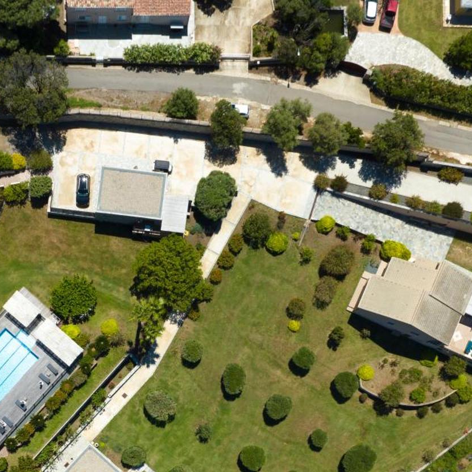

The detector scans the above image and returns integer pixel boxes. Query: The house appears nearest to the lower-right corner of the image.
[337,257,472,349]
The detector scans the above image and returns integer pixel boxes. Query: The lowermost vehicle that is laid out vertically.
[74,174,91,209]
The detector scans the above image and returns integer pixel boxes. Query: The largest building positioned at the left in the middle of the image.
[47,167,168,227]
